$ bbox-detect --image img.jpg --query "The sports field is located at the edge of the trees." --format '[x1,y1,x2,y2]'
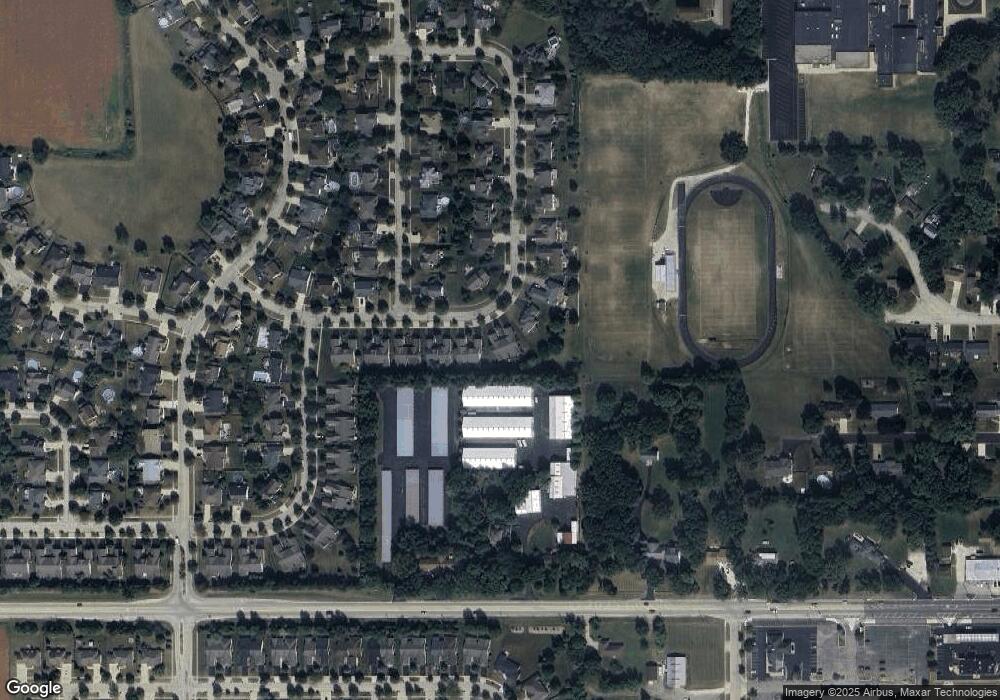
[687,183,768,357]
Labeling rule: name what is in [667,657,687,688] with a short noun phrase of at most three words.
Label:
building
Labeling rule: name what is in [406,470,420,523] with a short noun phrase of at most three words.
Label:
shed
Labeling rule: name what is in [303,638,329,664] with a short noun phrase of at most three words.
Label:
house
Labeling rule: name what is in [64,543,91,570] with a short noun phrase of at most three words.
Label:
house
